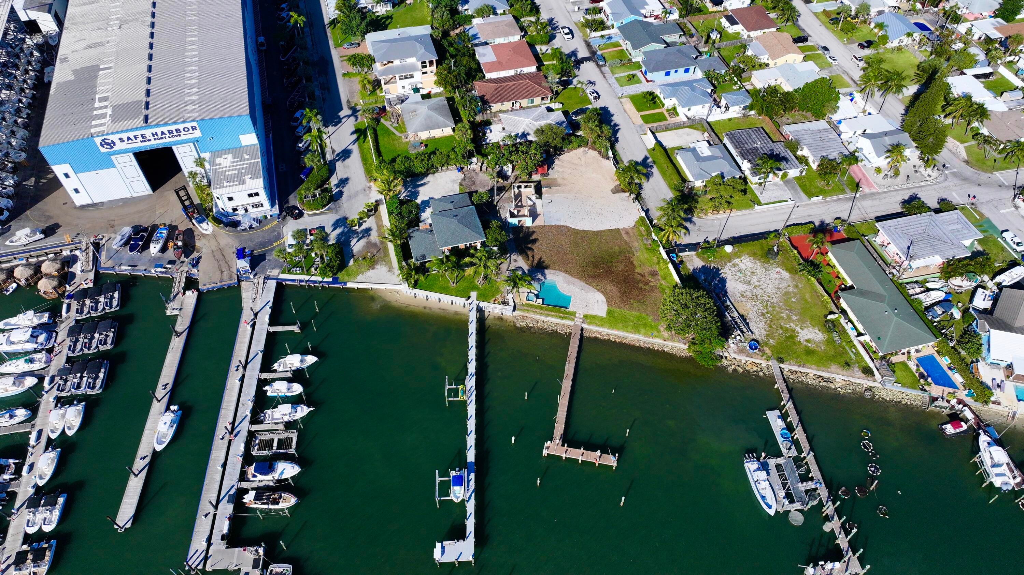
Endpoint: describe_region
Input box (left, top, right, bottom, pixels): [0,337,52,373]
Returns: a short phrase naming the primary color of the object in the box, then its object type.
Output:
white boat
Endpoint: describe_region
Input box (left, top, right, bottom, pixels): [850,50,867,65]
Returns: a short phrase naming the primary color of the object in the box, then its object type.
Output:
white car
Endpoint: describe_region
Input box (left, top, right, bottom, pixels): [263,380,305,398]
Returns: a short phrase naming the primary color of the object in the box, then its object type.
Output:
white boat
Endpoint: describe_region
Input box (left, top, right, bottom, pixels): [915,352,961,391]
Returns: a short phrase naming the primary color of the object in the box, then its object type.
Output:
blue swimming pool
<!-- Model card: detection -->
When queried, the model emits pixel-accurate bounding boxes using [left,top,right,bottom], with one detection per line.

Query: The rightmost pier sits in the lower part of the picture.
[967,405,1024,491]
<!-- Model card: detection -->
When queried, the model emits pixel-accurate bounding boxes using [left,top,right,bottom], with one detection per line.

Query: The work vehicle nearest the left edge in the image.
[168,174,205,217]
